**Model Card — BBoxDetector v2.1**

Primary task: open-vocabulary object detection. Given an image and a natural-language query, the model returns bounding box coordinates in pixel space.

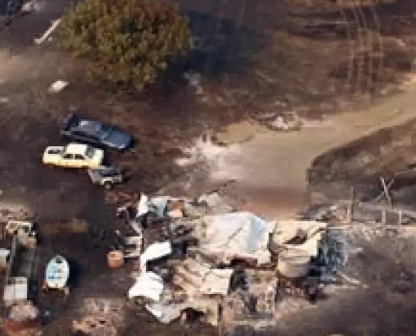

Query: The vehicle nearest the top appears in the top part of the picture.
[64,115,132,153]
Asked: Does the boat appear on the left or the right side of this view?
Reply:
left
